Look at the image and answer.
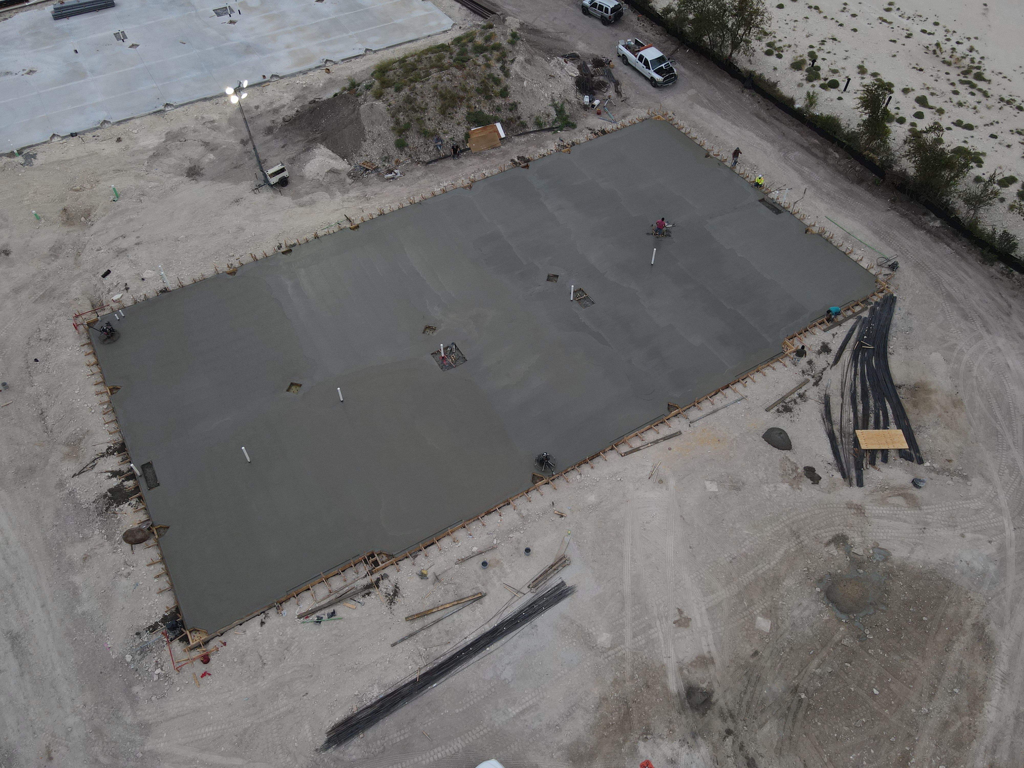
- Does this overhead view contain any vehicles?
Yes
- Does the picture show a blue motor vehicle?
No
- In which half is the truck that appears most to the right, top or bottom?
top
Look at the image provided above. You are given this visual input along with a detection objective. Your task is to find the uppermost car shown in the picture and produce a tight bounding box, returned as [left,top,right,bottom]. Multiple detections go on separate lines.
[580,0,625,26]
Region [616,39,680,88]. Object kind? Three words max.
truck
